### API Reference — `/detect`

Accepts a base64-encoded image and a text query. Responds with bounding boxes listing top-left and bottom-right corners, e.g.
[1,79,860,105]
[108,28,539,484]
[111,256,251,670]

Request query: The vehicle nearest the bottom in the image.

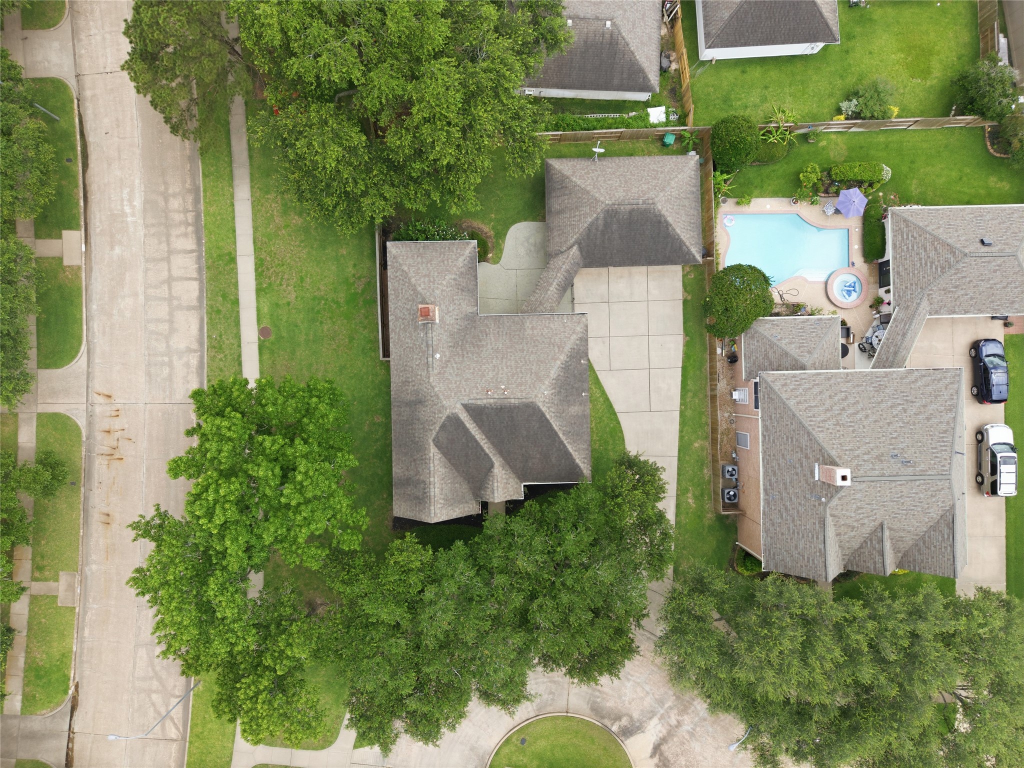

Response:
[977,423,1020,495]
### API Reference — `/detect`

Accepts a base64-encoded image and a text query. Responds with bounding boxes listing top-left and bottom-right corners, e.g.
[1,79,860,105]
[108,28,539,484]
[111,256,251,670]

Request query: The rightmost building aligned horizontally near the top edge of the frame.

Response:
[696,0,843,61]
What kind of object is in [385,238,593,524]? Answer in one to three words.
house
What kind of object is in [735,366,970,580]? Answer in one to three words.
house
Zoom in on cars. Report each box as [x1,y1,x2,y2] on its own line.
[971,339,1012,404]
[977,423,1020,495]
